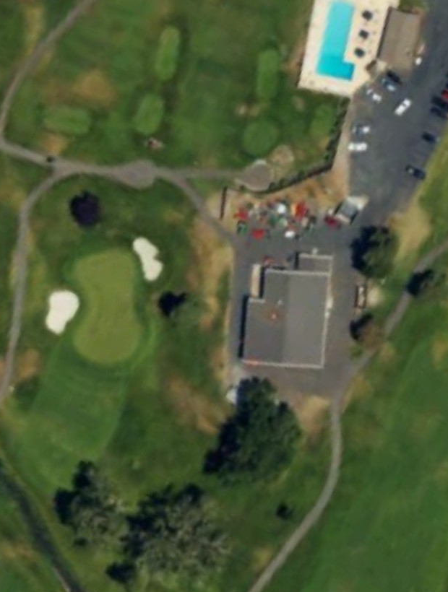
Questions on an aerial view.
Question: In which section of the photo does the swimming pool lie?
top right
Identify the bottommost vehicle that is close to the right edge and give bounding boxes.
[404,165,427,179]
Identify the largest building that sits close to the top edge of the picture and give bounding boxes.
[379,9,422,77]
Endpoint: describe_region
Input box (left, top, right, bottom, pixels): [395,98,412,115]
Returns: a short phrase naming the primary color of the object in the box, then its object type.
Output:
white car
